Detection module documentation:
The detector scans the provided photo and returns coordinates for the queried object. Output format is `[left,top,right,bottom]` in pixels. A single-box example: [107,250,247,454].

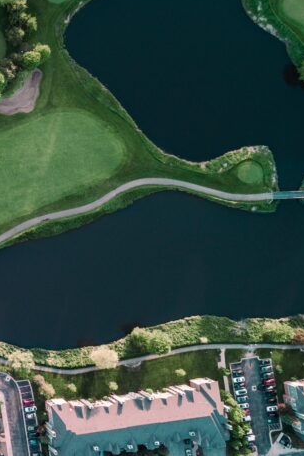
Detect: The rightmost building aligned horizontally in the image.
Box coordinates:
[42,367,228,456]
